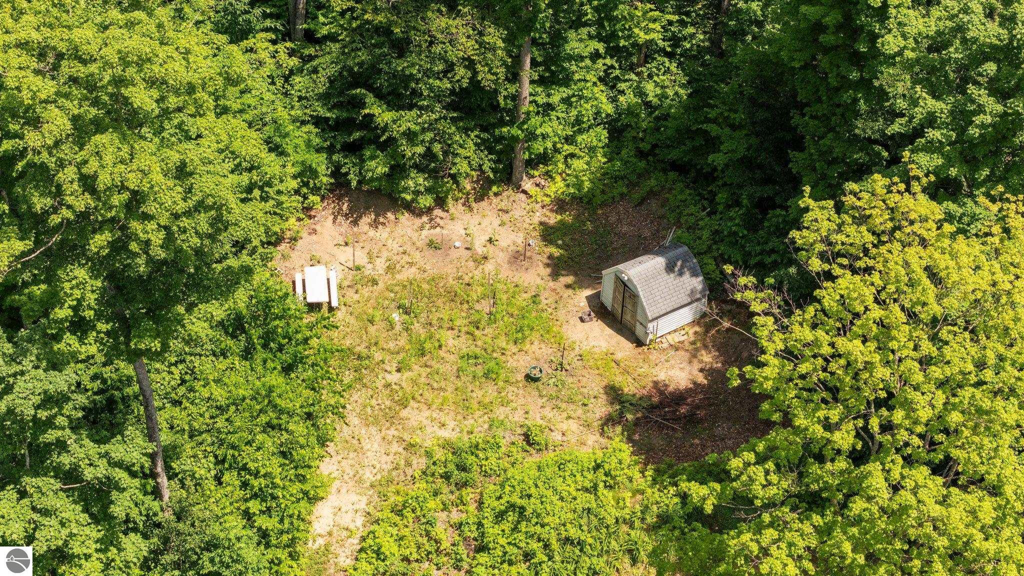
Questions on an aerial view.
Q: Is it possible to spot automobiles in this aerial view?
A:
No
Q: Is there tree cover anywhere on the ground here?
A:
Yes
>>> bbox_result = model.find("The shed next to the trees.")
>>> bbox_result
[597,238,710,344]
